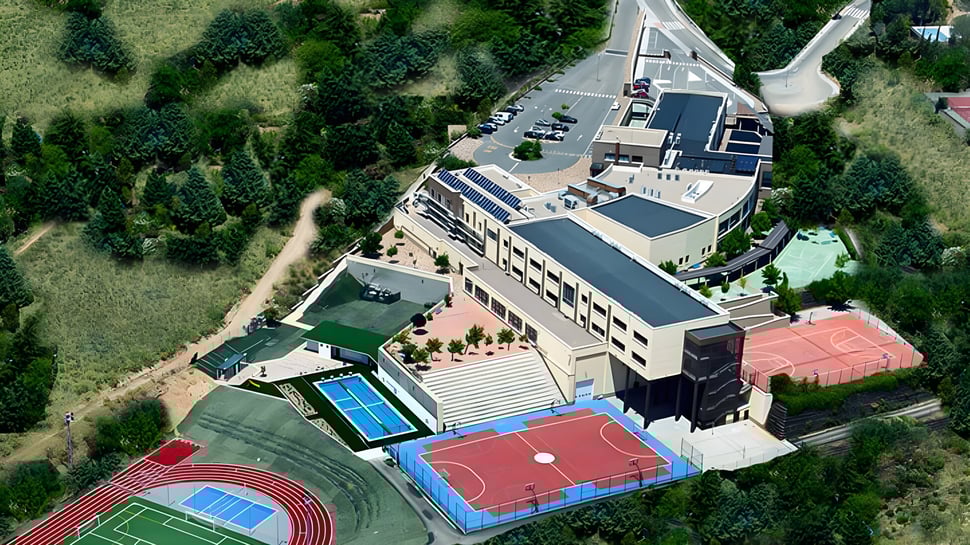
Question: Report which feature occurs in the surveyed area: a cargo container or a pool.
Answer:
pool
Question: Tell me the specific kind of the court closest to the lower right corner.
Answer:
basketball court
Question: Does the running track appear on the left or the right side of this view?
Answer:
left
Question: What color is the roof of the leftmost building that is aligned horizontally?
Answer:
green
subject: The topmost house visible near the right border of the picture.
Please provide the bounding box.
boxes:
[923,92,970,162]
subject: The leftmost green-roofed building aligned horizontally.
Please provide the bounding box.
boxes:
[302,320,391,370]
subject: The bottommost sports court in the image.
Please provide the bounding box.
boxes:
[177,485,278,530]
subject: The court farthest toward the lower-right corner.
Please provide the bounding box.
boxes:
[740,315,920,387]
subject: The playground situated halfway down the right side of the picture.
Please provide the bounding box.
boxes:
[698,228,868,309]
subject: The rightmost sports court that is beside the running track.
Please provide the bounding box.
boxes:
[390,391,699,531]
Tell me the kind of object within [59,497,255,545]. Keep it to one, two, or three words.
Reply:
soccer field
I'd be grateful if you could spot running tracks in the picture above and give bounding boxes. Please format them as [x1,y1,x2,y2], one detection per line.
[4,438,332,545]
